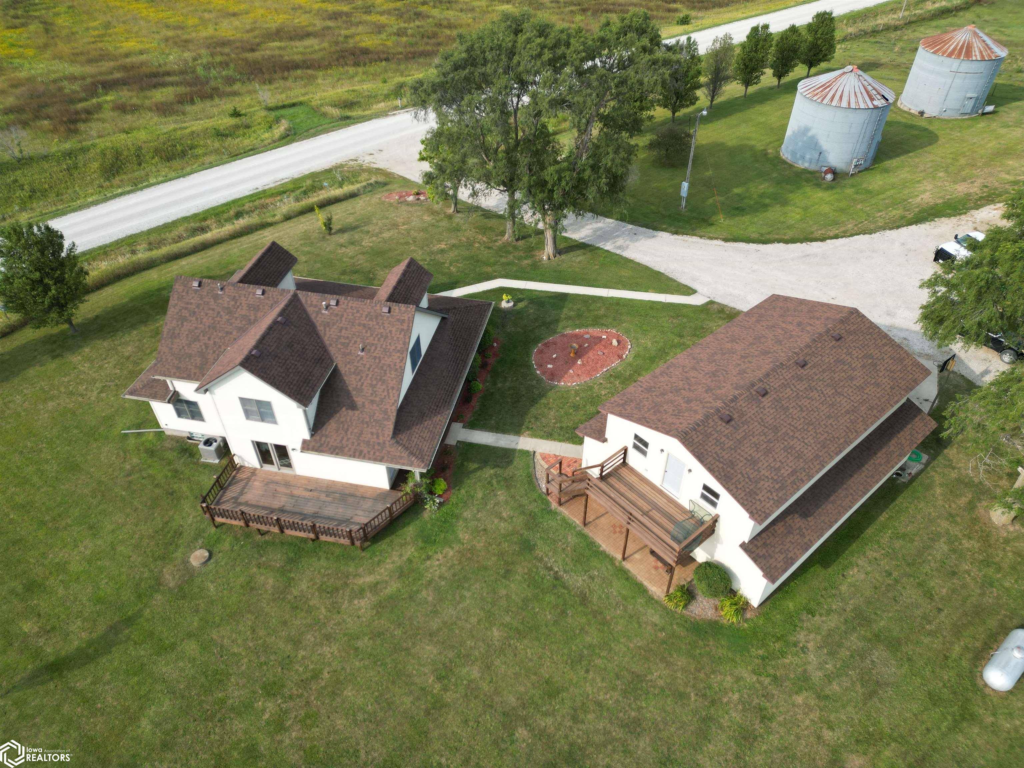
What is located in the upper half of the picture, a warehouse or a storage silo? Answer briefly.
storage silo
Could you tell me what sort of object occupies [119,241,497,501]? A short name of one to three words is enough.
house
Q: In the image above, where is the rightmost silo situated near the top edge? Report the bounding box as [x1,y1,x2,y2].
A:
[897,23,1010,120]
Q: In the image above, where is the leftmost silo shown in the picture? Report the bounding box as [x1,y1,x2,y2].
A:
[779,66,896,174]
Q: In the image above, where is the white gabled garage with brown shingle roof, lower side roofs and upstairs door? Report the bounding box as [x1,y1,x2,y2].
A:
[575,293,938,607]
